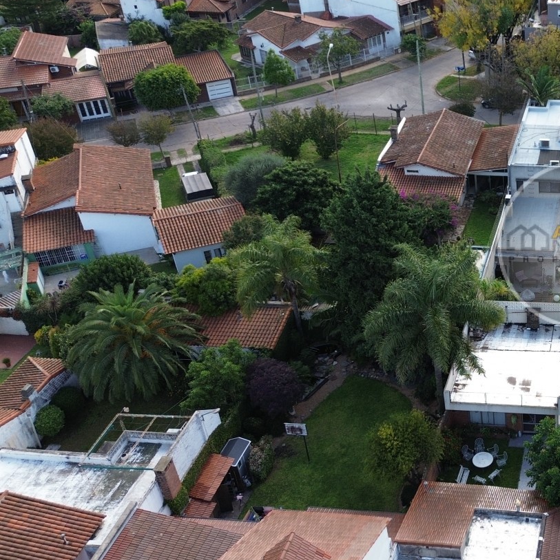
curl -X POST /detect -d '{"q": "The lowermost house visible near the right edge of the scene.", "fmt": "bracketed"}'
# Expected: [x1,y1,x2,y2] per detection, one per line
[394,478,560,560]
